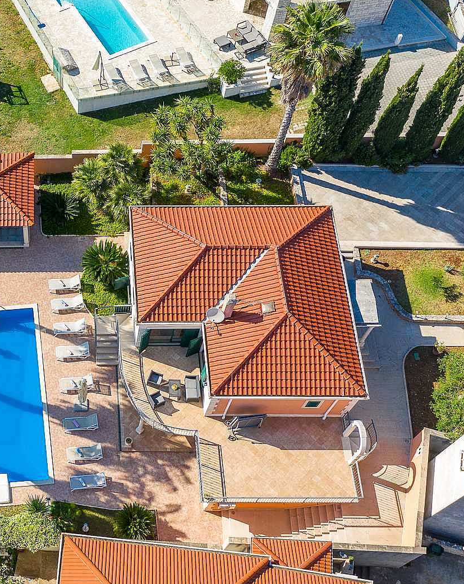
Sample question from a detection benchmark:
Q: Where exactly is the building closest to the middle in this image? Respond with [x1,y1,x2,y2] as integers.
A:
[120,203,382,421]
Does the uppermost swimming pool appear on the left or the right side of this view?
left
